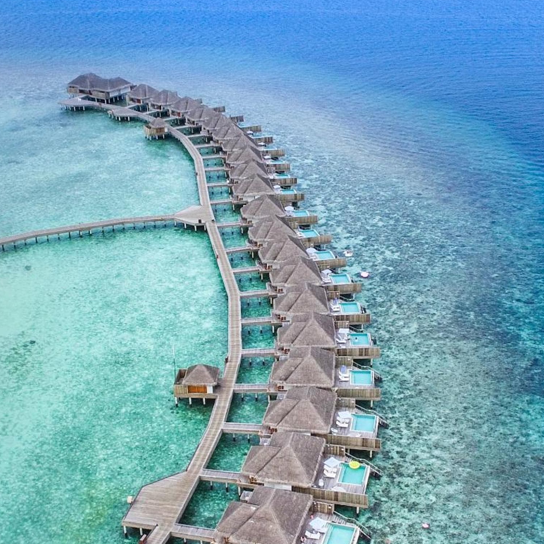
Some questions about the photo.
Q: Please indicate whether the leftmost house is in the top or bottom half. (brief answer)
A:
top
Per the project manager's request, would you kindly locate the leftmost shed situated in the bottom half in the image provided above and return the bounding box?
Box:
[170,352,222,415]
